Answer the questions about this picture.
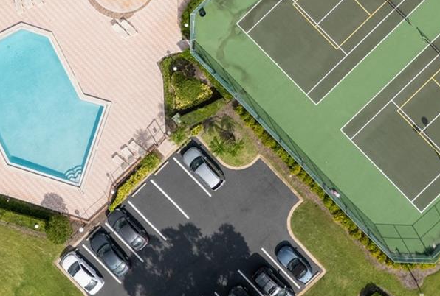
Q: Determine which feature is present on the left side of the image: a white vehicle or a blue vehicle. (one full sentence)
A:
Looking on the left side of the image, you will find a white vehicle.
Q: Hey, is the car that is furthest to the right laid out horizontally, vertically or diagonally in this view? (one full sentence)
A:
The car that is furthest to the right runs diagonally in the image.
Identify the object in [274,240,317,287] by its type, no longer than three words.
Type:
car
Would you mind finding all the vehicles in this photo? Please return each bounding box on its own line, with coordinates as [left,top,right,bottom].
[274,240,317,287]
[105,207,151,252]
[60,249,107,296]
[181,143,226,190]
[86,228,132,275]
[252,263,293,296]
